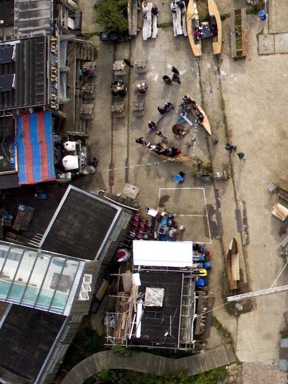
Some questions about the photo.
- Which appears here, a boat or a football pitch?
boat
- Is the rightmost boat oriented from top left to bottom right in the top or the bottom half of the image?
top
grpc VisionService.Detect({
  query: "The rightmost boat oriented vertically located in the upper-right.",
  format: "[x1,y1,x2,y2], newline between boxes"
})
[208,0,222,54]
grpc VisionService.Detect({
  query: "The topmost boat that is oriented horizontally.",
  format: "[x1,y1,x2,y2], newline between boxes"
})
[145,147,193,165]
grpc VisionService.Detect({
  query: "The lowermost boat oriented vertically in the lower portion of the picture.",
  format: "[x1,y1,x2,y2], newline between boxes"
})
[227,238,240,295]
